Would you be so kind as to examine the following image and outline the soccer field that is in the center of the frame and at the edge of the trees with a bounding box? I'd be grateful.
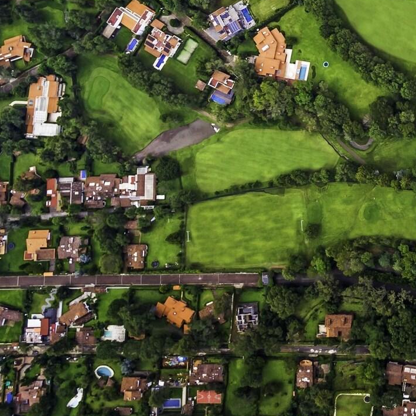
[190,195,301,264]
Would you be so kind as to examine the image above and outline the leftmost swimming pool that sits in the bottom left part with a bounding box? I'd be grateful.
[67,391,83,409]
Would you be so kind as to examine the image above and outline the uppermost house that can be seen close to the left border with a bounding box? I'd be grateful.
[0,35,36,68]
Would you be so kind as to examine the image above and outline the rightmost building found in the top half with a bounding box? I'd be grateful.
[254,22,302,79]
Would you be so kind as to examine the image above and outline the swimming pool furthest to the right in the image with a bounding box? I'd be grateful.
[295,60,311,81]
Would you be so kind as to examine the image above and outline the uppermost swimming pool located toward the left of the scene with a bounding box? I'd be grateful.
[124,35,139,54]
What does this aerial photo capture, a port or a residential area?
residential area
